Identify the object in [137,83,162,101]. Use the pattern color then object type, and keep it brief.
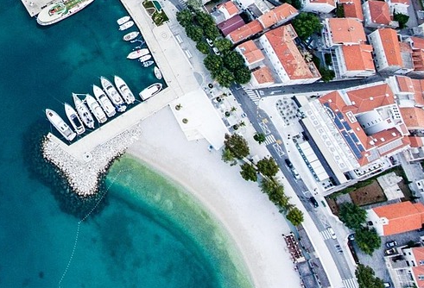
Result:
white boat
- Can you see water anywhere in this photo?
Yes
